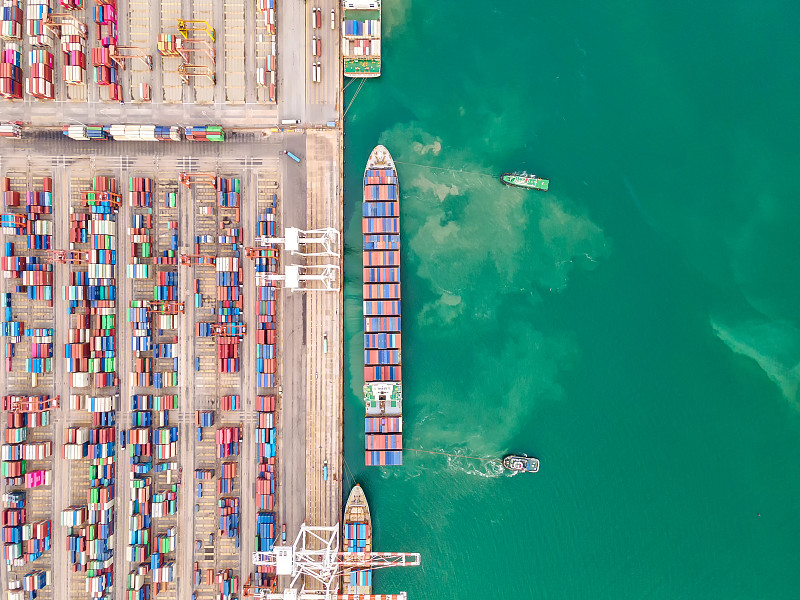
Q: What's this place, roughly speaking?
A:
port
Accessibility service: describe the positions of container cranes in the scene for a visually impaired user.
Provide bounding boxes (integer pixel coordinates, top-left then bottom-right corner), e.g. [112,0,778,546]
[255,262,340,297]
[255,227,340,262]
[42,13,88,40]
[178,255,216,270]
[45,250,90,265]
[146,300,186,314]
[178,173,216,191]
[255,557,399,600]
[210,321,248,336]
[175,39,216,64]
[251,516,420,588]
[176,20,216,45]
[10,395,60,412]
[78,191,123,208]
[242,571,278,596]
[176,65,216,88]
[108,46,152,71]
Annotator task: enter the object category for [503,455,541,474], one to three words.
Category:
boat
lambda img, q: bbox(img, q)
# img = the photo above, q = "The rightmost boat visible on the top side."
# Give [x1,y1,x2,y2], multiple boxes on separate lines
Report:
[501,172,552,191]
